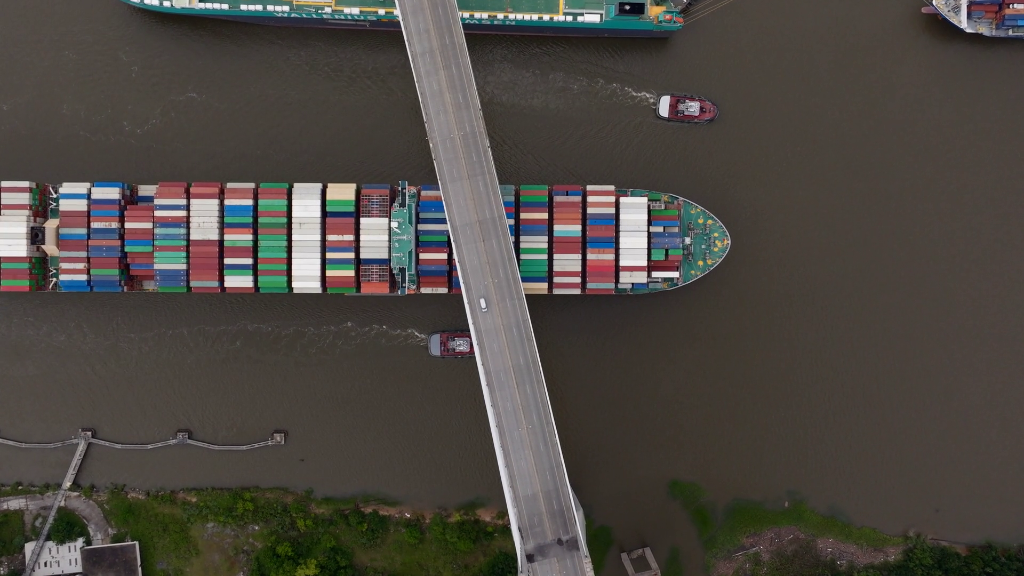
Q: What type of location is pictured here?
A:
port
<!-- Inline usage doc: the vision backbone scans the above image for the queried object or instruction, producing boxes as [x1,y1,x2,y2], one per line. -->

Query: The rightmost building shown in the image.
[80,539,147,576]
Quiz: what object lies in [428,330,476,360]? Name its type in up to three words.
boat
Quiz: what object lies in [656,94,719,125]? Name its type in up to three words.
boat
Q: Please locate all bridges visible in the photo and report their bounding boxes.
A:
[396,0,593,576]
